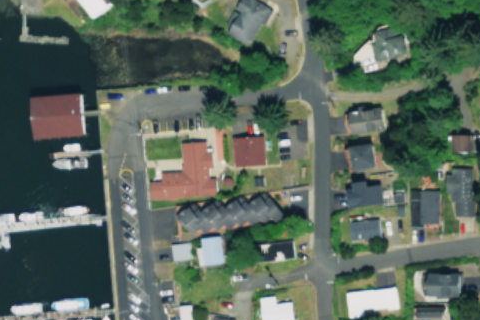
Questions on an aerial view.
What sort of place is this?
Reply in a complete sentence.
This image shows a residential area.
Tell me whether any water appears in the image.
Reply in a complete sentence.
Yes, water shows up in the scene.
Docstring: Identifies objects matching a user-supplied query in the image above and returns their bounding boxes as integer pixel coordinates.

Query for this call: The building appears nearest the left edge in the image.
[30,94,84,140]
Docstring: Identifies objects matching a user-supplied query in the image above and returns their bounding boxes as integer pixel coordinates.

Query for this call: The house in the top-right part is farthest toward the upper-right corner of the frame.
[372,28,408,62]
